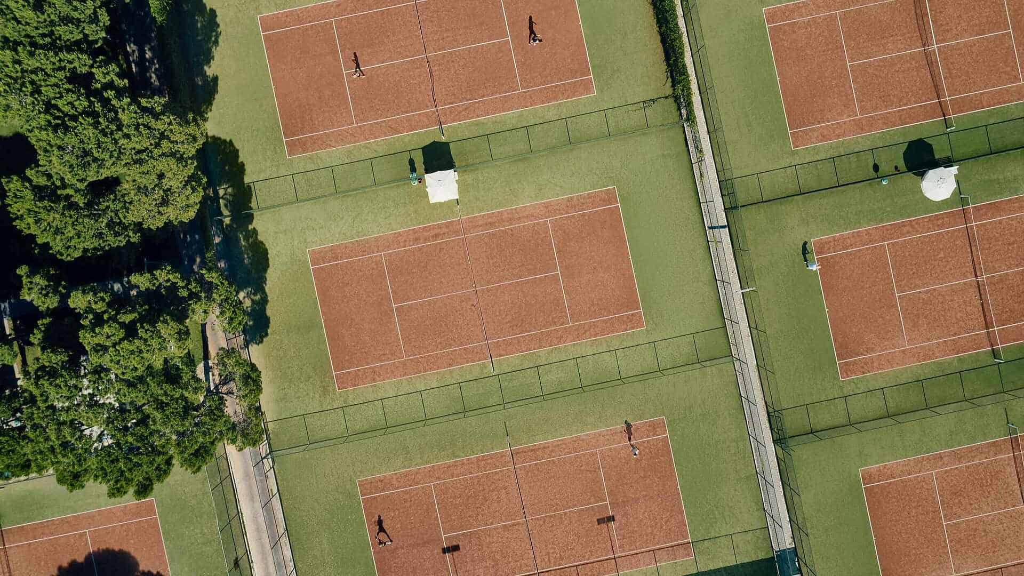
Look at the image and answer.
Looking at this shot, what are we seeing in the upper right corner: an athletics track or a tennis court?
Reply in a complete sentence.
The one visible in the upper right corner is a tennis court.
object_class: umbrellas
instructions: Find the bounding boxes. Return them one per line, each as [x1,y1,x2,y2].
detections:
[426,171,459,204]
[919,167,955,202]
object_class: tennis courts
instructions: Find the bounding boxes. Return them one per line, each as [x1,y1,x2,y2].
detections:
[859,435,1024,576]
[764,0,1024,150]
[258,0,595,158]
[357,416,694,576]
[0,498,169,576]
[812,196,1024,381]
[308,186,645,391]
